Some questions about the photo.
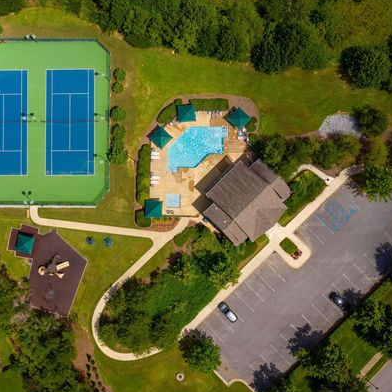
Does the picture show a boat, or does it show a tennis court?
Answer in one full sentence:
Visible in the photo is a tennis court.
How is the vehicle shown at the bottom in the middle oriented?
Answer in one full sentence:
The vehicle shown at the bottom in the middle is laid out on a diagonal.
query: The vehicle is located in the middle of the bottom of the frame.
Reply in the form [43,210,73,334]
[216,300,239,323]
